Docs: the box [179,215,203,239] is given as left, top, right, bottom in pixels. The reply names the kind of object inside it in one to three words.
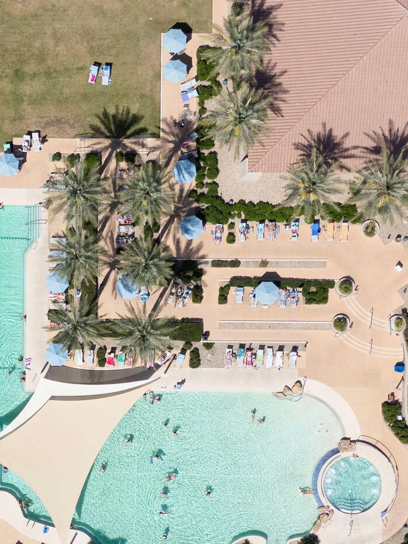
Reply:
umbrella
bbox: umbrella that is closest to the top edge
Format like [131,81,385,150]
[163,29,187,53]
